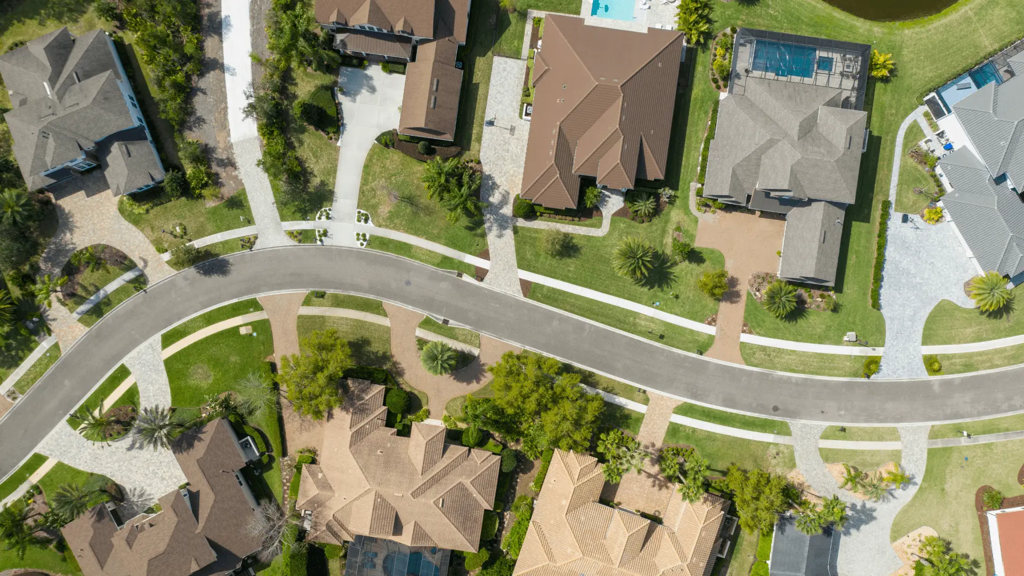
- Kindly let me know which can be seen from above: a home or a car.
home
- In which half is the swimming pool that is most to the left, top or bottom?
bottom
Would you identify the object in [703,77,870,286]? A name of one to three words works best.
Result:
house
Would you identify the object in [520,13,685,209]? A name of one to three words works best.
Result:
house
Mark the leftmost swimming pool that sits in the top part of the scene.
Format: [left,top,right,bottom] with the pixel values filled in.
[588,0,637,23]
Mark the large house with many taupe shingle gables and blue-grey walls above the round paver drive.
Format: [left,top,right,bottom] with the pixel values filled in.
[0,27,168,197]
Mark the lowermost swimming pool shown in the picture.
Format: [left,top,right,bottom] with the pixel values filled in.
[381,552,442,576]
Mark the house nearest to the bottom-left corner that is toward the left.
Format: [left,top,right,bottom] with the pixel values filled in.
[60,416,265,576]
